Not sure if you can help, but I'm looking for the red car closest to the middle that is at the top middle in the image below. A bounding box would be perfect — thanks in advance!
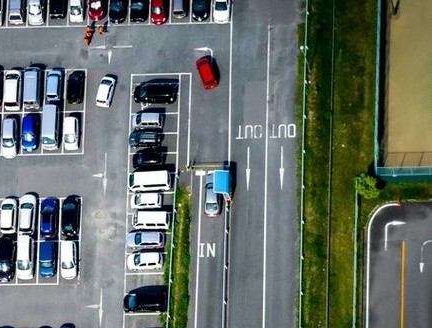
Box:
[198,59,220,93]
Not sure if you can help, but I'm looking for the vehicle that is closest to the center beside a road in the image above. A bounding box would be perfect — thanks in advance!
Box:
[205,176,222,215]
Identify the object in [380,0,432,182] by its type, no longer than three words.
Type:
sports court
